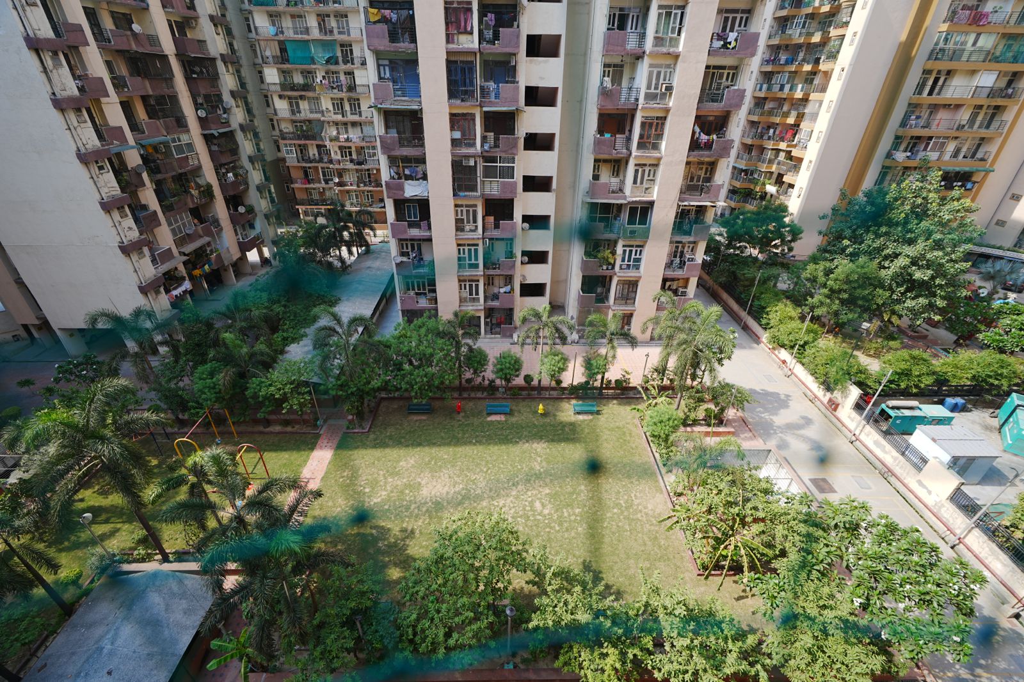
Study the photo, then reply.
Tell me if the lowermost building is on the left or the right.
left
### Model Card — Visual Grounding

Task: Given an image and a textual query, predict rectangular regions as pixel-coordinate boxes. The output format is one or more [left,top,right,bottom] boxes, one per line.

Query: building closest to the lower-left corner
[15,573,237,682]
